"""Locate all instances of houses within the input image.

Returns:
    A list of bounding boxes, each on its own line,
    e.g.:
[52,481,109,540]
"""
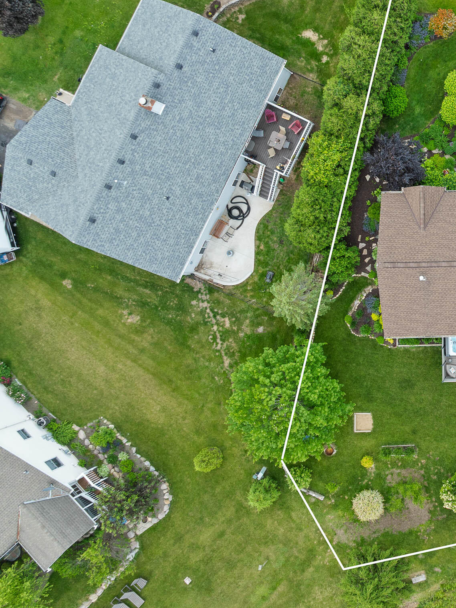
[377,186,456,340]
[0,388,106,575]
[0,0,294,285]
